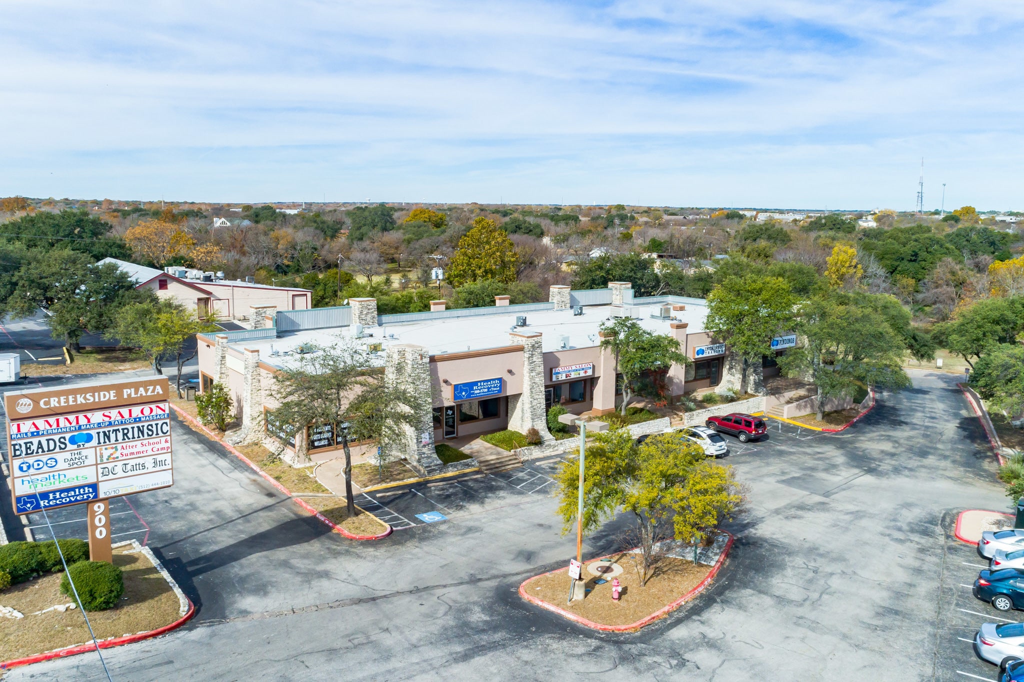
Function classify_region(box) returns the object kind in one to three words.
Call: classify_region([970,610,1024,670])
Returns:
car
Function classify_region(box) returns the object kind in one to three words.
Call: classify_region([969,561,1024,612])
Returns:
car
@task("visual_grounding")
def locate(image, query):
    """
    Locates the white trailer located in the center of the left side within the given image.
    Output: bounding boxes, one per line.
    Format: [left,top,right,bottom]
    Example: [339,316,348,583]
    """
[0,346,45,380]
